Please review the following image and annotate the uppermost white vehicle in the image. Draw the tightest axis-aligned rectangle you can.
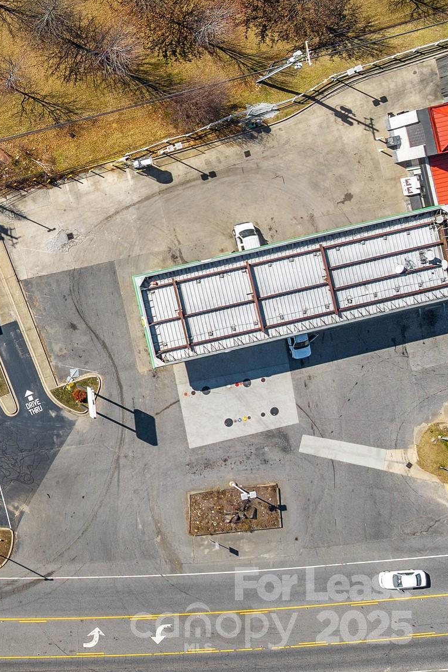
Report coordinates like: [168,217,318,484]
[231,219,259,250]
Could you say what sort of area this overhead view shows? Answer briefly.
industrial area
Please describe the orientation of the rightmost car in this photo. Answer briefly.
from side to side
